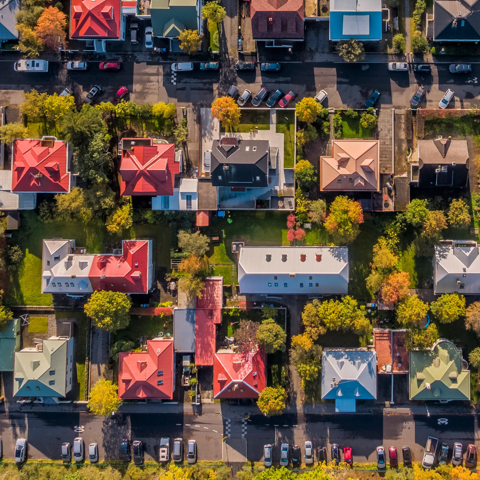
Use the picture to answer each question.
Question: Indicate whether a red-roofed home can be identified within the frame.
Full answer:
Yes, you can see a red-roofed home in this photo.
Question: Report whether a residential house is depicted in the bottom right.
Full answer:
Yes, a residential house shows up in the bottom right.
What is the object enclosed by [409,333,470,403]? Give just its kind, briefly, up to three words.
house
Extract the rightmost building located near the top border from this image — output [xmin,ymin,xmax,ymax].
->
[432,0,480,44]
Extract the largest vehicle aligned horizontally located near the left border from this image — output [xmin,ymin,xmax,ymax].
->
[13,59,50,71]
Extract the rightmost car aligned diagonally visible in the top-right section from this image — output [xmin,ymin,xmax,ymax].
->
[438,88,455,108]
